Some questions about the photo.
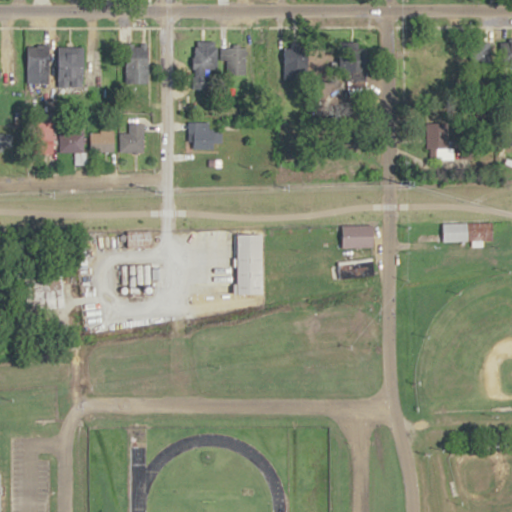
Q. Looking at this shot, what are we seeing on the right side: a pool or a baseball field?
baseball field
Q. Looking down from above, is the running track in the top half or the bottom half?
bottom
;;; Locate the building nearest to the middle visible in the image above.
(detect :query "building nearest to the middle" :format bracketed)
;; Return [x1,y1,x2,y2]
[234,234,264,296]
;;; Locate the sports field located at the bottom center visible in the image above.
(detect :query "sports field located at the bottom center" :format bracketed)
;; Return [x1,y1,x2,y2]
[147,447,274,512]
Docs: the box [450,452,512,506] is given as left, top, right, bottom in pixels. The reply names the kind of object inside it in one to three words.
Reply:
baseball field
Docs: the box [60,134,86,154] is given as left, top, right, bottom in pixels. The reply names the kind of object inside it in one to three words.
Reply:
house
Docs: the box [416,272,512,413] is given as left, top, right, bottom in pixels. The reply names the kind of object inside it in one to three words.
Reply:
baseball field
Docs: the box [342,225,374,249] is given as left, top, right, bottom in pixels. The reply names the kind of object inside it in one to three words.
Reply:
barn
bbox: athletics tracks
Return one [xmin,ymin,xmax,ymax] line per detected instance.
[130,428,286,512]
